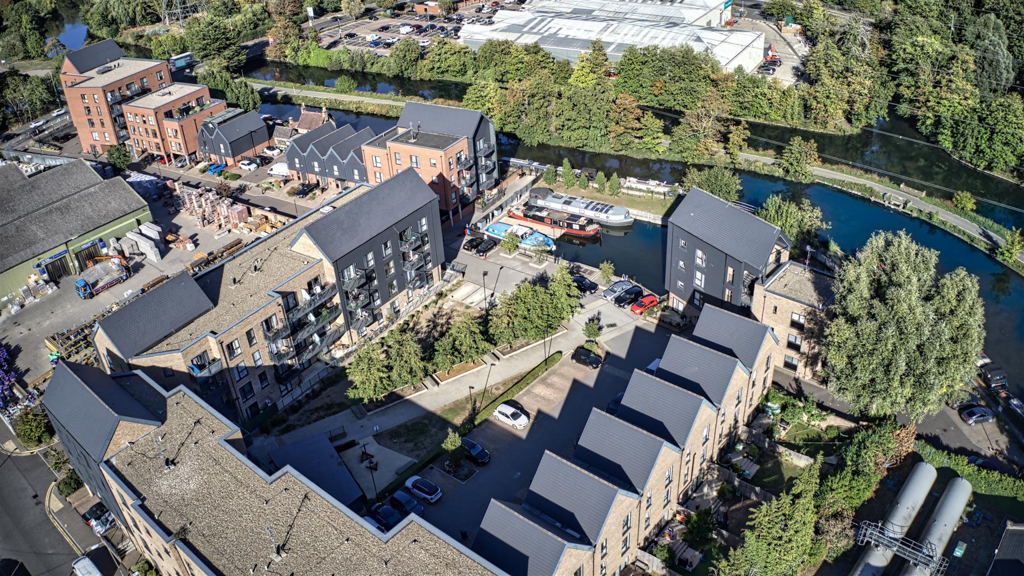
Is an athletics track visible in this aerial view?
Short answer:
No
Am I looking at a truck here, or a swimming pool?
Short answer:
truck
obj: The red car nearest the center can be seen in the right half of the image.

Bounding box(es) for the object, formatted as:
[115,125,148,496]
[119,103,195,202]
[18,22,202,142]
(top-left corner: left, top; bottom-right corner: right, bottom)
[631,292,658,313]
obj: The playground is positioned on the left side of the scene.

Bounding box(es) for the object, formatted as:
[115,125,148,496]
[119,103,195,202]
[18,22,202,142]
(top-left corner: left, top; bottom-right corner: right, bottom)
[340,436,410,498]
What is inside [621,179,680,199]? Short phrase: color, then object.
white boat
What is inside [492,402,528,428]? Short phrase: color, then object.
white car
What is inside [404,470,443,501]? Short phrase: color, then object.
black car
